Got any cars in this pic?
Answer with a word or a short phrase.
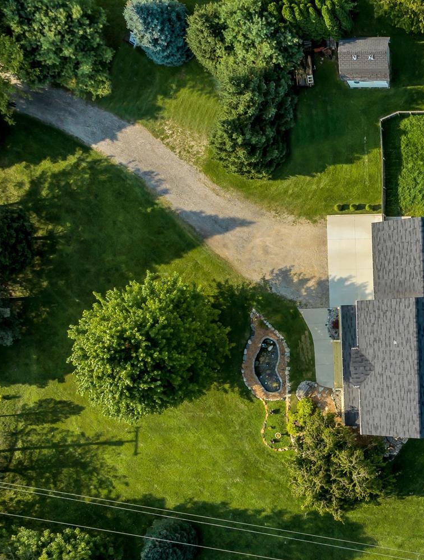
No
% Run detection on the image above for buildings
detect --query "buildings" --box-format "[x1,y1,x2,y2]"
[336,40,391,89]
[330,215,424,439]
